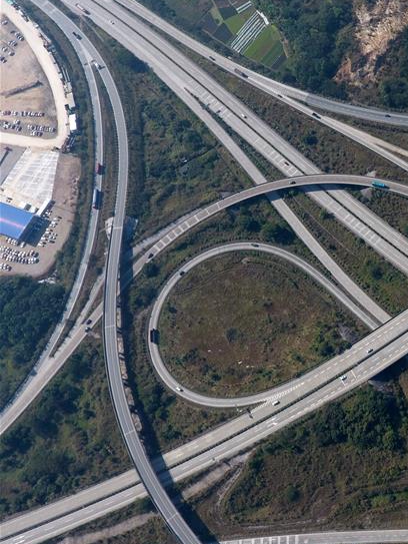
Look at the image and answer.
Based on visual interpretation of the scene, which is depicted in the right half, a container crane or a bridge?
bridge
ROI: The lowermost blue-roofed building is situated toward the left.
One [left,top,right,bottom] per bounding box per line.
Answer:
[0,204,39,241]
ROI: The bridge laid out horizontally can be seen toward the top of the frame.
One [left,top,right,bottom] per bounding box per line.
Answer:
[226,174,406,205]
